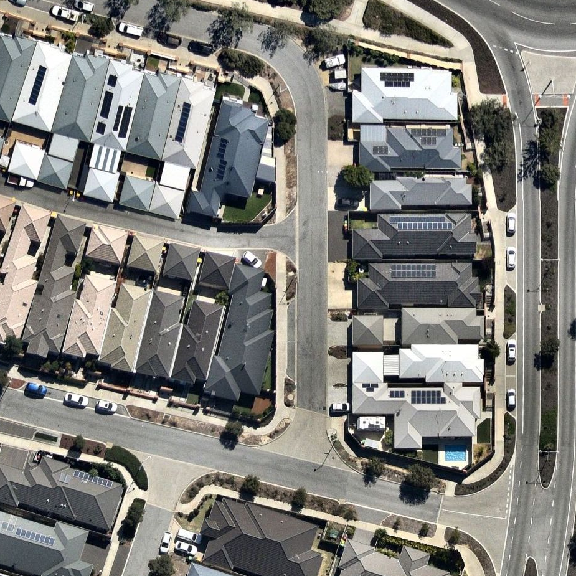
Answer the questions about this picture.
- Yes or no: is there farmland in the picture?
No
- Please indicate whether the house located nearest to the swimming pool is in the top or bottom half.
bottom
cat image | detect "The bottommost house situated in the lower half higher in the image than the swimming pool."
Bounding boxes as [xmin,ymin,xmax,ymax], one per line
[353,382,480,447]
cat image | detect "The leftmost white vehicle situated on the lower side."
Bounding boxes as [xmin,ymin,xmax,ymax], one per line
[63,394,86,407]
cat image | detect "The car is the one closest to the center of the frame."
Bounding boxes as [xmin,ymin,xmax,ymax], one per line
[241,249,262,268]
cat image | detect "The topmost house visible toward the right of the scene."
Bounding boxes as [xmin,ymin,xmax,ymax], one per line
[353,68,457,123]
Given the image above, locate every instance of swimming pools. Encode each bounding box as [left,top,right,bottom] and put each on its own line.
[443,444,469,462]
